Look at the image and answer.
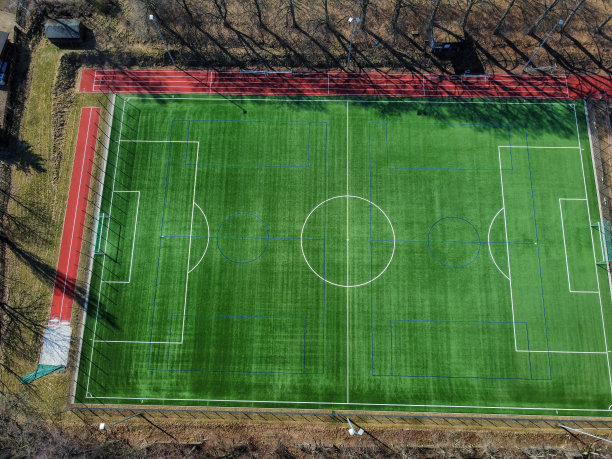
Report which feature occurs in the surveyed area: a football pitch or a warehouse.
football pitch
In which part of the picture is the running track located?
top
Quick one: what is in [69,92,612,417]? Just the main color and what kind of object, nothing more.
green soccer field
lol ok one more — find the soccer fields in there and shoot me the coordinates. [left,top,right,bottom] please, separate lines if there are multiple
[69,92,612,417]
[148,120,327,374]
[369,123,551,380]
